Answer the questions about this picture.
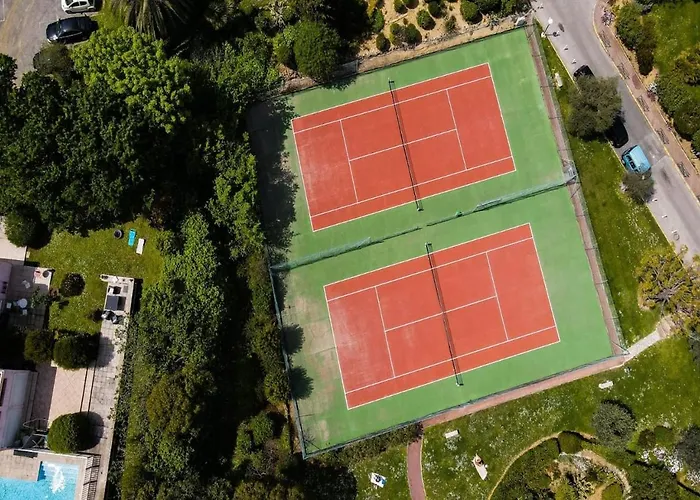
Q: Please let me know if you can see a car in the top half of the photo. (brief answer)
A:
Yes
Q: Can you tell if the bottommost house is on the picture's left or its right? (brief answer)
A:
left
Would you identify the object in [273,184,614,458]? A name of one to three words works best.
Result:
tennis court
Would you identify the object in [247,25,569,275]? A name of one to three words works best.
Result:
tennis court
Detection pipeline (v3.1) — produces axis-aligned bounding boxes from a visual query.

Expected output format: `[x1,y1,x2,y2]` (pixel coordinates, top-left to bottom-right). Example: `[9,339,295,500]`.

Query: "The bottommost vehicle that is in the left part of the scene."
[49,17,95,42]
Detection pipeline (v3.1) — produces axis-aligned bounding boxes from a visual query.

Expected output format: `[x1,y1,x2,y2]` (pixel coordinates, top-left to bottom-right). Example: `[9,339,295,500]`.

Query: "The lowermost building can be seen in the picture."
[0,366,42,460]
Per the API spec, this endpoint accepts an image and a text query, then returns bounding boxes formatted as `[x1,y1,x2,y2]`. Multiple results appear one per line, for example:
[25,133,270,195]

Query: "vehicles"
[569,62,600,92]
[49,17,95,42]
[60,0,96,16]
[596,114,630,149]
[617,146,651,179]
